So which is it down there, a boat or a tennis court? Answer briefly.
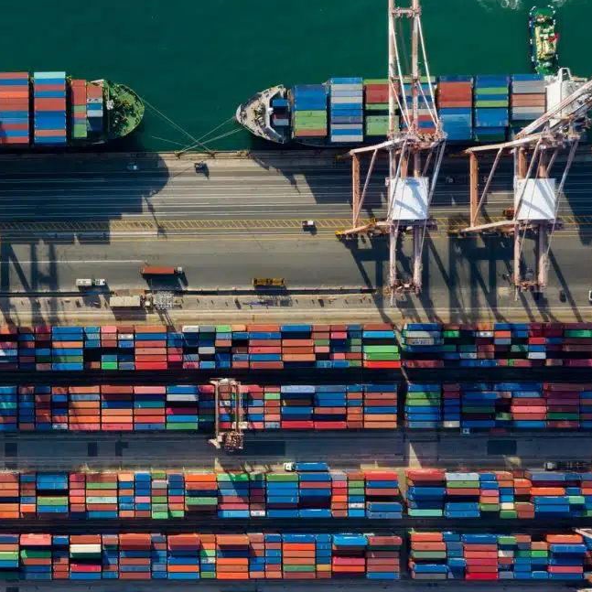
boat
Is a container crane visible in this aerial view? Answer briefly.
Yes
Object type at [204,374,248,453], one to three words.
crane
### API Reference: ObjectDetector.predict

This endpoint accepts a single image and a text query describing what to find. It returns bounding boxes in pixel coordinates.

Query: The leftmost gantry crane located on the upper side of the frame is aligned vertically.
[326,0,453,301]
